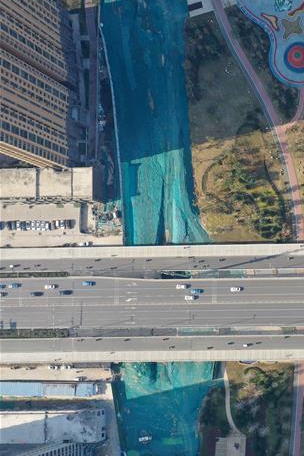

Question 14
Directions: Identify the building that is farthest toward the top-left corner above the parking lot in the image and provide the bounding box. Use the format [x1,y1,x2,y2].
[0,0,69,169]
